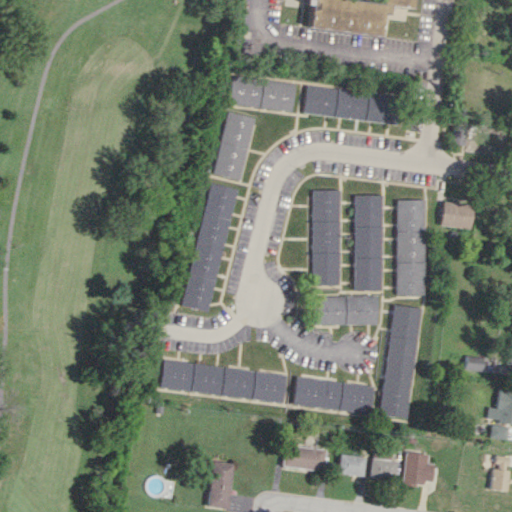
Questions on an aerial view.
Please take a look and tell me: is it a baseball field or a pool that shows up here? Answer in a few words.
pool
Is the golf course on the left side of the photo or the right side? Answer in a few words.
left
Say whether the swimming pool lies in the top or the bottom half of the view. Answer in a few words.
bottom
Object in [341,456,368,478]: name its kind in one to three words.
house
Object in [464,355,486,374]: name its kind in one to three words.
house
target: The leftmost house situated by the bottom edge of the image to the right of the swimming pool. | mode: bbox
[206,460,234,508]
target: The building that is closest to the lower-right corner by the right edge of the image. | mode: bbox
[490,468,510,494]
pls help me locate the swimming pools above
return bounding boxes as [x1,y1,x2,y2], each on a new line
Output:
[144,476,176,500]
